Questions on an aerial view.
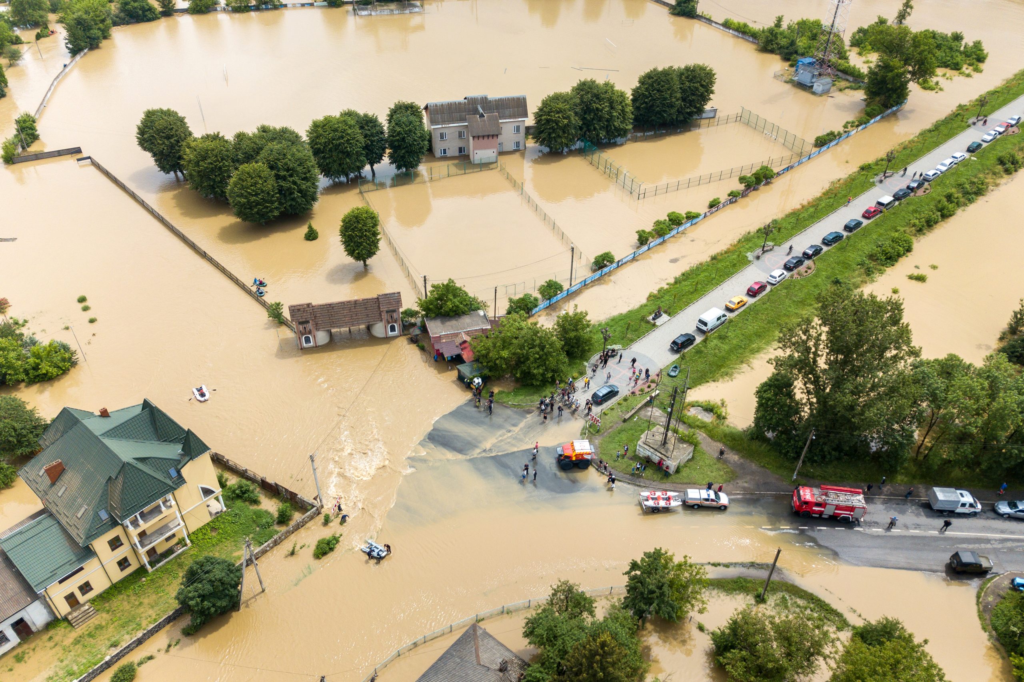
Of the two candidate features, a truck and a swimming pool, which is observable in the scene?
truck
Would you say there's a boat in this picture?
Yes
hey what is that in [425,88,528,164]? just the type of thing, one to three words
house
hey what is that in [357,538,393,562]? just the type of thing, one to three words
boat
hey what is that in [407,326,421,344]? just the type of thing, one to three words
umbrella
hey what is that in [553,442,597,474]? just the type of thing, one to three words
truck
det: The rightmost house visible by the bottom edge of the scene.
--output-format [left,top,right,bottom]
[418,623,547,682]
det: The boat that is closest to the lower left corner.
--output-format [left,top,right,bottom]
[184,383,213,401]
